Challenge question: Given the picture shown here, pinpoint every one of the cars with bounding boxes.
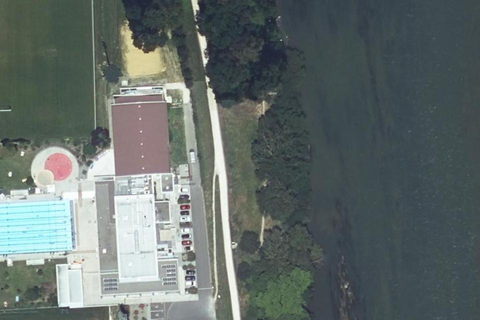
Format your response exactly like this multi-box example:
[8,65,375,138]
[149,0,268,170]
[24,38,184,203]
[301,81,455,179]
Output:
[184,276,196,281]
[183,246,193,251]
[180,210,190,216]
[180,216,190,222]
[179,204,190,210]
[186,270,196,275]
[186,281,196,286]
[182,240,192,246]
[179,194,190,200]
[179,188,189,193]
[180,234,192,240]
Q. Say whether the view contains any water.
Yes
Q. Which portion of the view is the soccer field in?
top left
